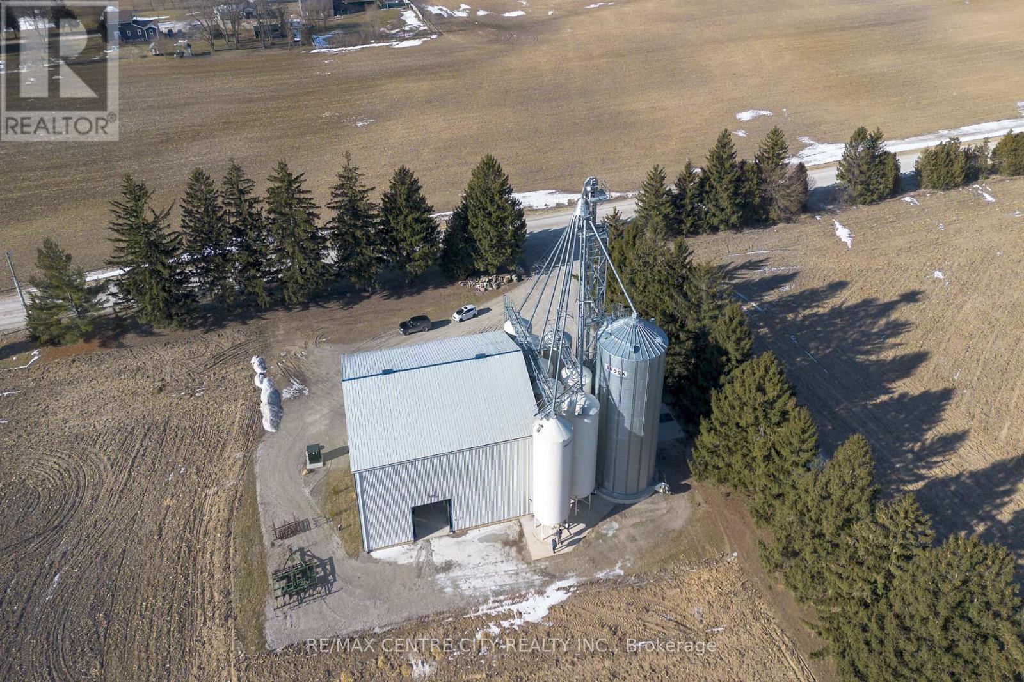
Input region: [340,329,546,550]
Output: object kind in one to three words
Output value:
barn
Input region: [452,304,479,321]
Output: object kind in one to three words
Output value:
car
